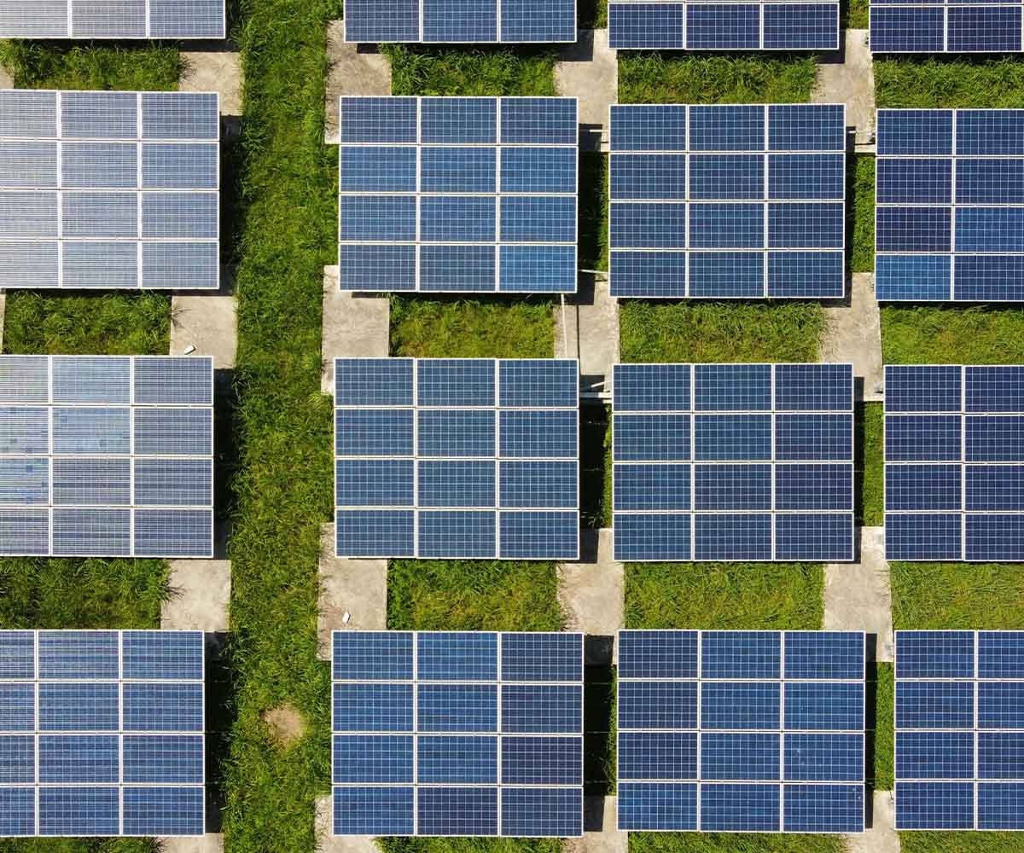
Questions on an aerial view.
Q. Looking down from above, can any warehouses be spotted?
No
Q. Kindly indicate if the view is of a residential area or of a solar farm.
solar farm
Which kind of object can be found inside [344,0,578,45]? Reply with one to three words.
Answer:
solar array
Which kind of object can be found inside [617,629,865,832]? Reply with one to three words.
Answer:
solar array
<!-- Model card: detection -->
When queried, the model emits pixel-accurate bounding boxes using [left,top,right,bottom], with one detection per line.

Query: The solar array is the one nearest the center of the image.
[335,359,578,559]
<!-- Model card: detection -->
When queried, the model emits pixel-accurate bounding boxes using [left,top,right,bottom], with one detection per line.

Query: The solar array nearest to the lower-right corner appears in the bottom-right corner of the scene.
[885,630,1024,831]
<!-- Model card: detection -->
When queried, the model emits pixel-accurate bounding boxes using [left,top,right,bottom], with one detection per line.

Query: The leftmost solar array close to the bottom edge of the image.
[0,631,214,837]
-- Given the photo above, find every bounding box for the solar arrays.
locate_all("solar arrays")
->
[874,365,1024,561]
[0,631,214,837]
[608,104,845,298]
[335,359,578,559]
[865,0,1024,53]
[344,0,578,45]
[0,357,222,557]
[332,632,583,837]
[0,91,228,289]
[608,0,839,50]
[885,630,1024,831]
[0,0,230,39]
[617,629,865,832]
[867,109,1024,301]
[612,364,854,562]
[339,97,578,292]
